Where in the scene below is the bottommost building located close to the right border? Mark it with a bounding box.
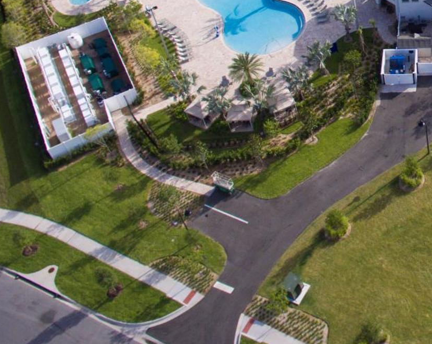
[379,49,419,84]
